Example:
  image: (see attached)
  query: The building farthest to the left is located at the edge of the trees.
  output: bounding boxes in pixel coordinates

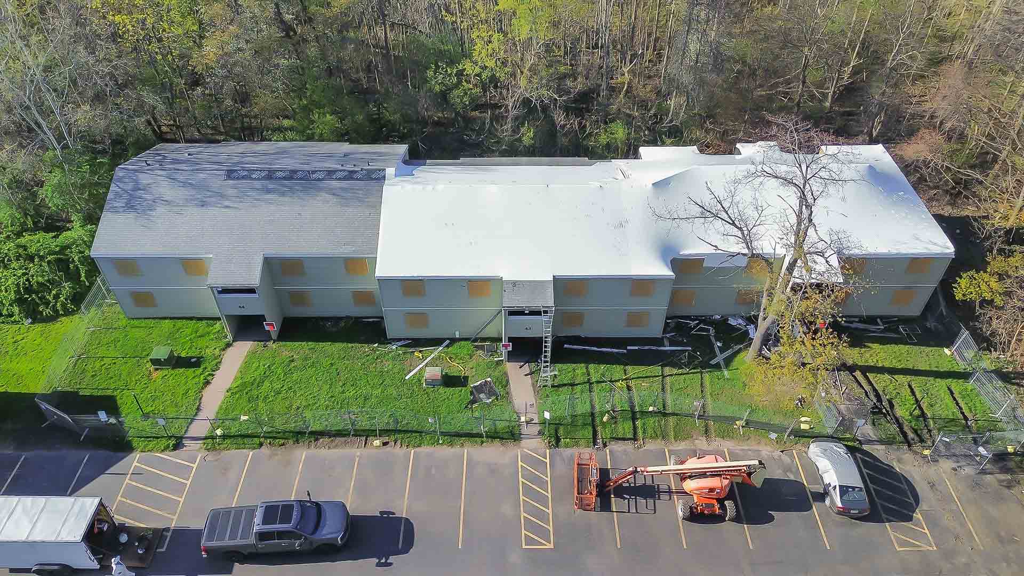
[90,142,405,340]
